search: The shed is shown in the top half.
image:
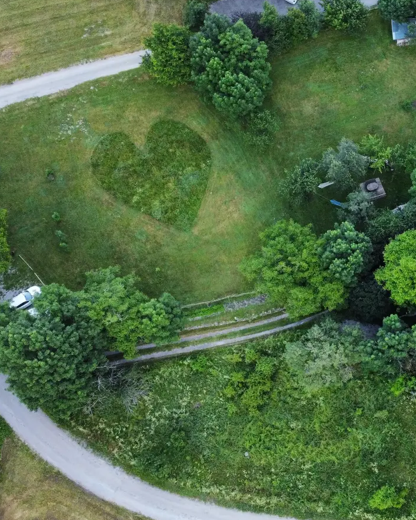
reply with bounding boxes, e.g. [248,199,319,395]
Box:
[392,20,416,49]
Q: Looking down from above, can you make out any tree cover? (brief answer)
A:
Yes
